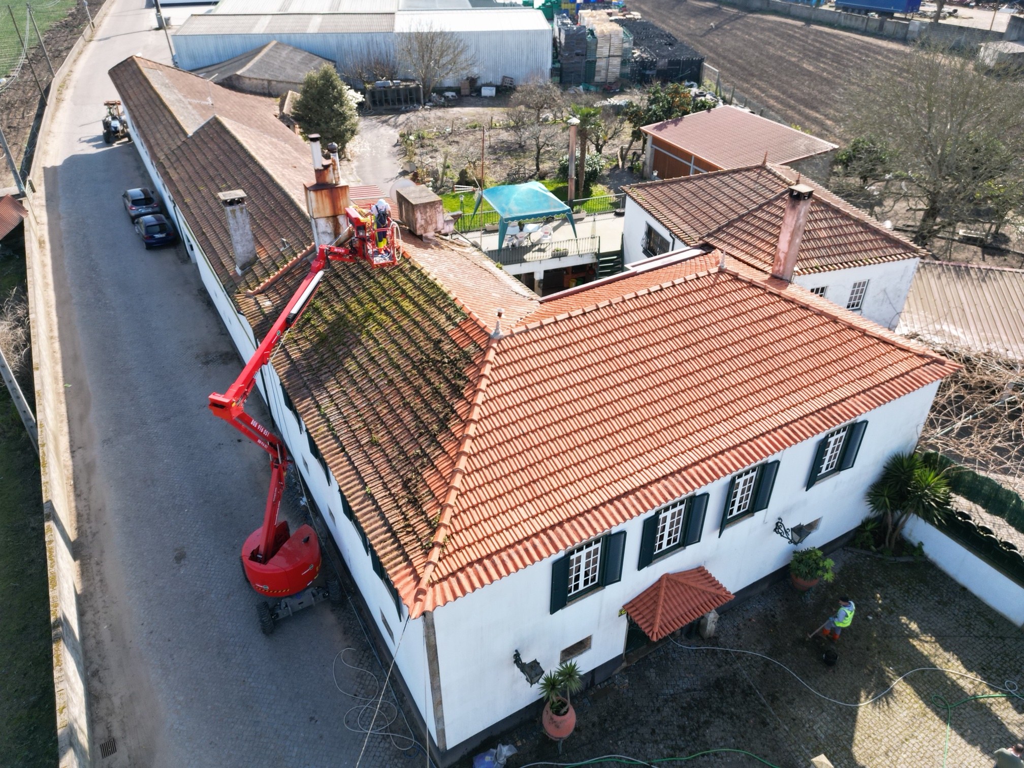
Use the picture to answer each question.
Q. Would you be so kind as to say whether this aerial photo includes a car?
Yes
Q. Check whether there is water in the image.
No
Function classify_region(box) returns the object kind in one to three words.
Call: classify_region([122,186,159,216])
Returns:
car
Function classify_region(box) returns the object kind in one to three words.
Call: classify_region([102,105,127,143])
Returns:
work vehicle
